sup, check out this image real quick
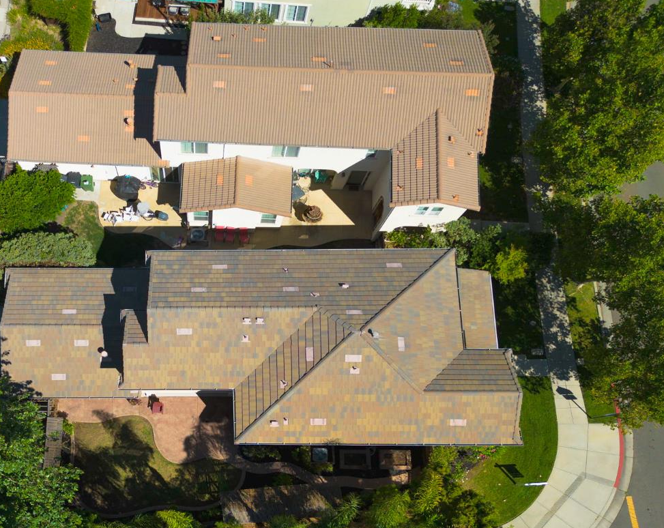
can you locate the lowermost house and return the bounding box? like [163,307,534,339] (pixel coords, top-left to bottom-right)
[0,247,531,447]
